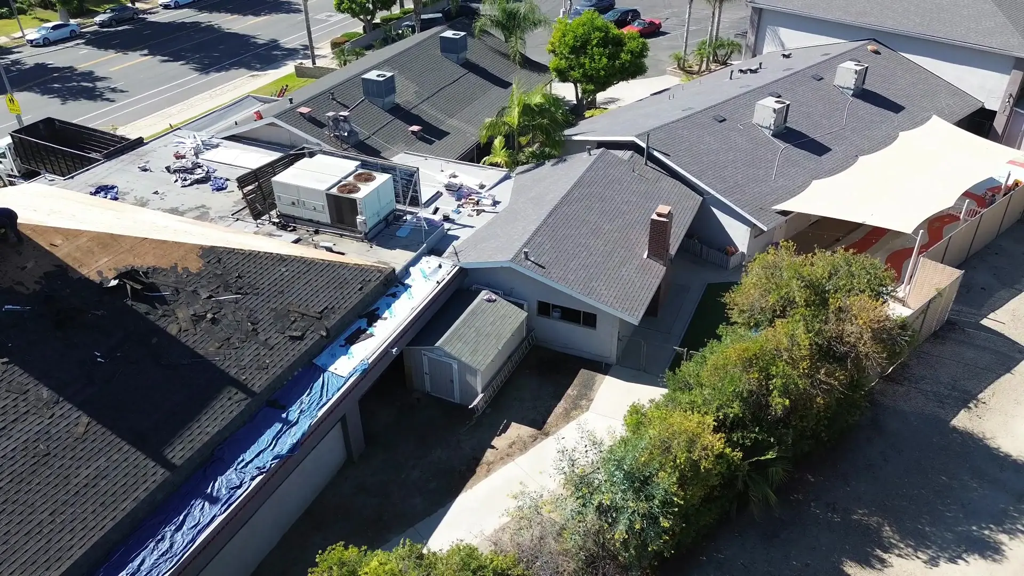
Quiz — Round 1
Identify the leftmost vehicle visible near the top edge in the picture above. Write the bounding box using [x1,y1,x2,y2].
[21,21,80,47]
